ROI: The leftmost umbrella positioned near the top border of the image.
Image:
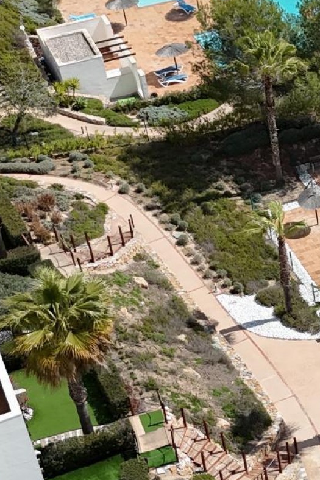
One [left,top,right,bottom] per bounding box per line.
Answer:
[104,0,138,24]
